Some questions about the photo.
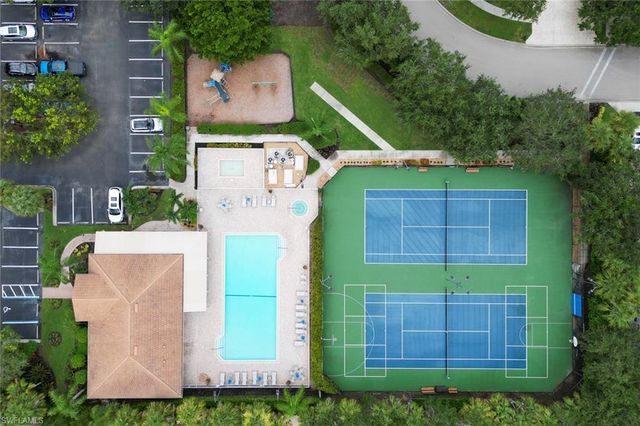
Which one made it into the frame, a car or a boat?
car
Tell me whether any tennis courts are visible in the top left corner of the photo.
No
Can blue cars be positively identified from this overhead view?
Yes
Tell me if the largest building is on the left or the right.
left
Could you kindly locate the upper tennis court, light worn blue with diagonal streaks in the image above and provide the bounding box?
[364,189,528,265]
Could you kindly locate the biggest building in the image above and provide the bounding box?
[71,254,186,399]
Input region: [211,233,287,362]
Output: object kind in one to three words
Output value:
swimming pool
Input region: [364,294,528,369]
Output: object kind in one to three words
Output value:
tennis court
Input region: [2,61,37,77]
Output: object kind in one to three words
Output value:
car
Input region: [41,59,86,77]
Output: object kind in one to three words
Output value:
vehicle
